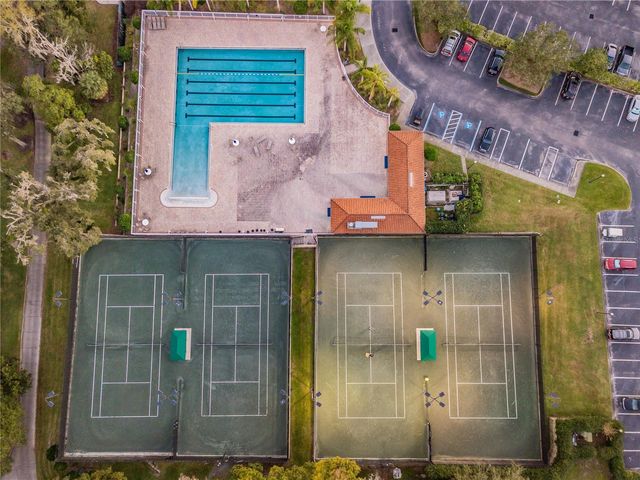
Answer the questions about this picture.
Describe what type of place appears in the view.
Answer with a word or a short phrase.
sports ground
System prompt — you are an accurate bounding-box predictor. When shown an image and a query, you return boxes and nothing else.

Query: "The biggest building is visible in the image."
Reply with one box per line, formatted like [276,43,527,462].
[329,131,426,234]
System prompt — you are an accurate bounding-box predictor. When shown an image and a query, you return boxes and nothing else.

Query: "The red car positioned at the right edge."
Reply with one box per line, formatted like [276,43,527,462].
[603,258,639,271]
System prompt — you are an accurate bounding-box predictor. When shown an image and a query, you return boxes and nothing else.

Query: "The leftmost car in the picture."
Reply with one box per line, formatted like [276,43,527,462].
[409,101,426,127]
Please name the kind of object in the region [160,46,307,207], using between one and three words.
swimming pool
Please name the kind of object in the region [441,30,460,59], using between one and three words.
car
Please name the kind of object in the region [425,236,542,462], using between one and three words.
tennis court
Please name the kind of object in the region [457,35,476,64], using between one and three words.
car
